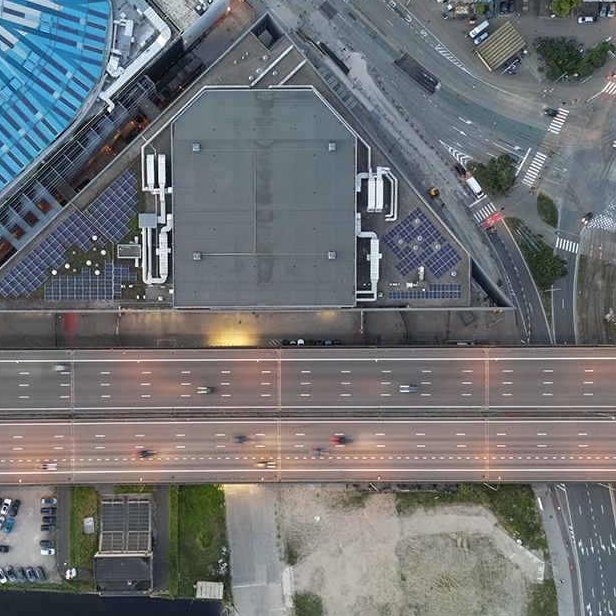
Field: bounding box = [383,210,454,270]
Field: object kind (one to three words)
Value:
solar array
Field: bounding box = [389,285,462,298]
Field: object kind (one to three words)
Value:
solar array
